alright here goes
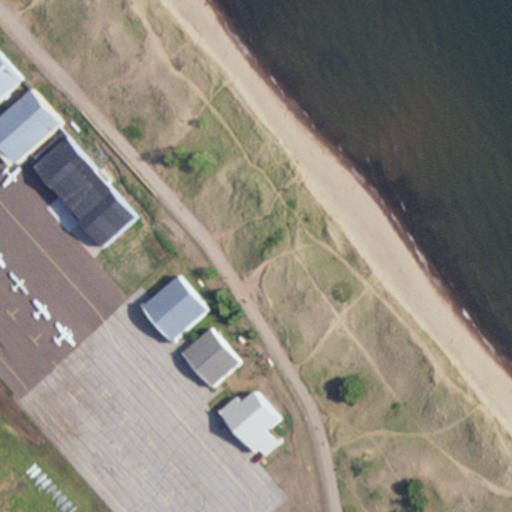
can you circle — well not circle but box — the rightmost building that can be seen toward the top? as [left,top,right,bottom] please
[36,131,136,248]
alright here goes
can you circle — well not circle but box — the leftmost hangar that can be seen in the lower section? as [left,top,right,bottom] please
[142,274,210,344]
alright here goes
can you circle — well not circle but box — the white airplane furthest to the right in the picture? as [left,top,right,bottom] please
[54,322,73,344]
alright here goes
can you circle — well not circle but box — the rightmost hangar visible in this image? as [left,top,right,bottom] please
[218,391,282,458]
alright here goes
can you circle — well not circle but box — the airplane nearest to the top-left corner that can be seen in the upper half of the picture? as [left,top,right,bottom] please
[2,167,20,186]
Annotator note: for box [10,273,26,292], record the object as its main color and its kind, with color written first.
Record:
white airplane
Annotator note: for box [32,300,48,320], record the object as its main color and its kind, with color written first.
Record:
white airplane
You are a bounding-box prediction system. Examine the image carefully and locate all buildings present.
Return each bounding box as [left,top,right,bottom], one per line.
[142,274,210,344]
[36,131,136,248]
[218,391,282,458]
[0,86,62,166]
[0,50,24,106]
[183,328,241,388]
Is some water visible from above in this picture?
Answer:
Yes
